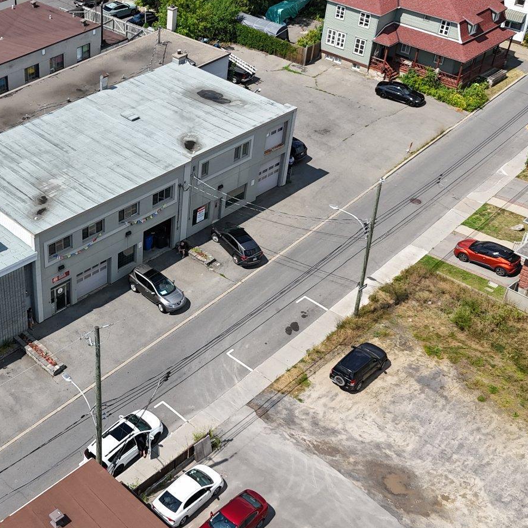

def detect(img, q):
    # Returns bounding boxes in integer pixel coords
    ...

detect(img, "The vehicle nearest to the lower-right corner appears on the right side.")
[333,335,389,387]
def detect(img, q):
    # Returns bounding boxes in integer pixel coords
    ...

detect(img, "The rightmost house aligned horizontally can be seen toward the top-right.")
[318,0,520,87]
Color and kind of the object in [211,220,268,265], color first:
black car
